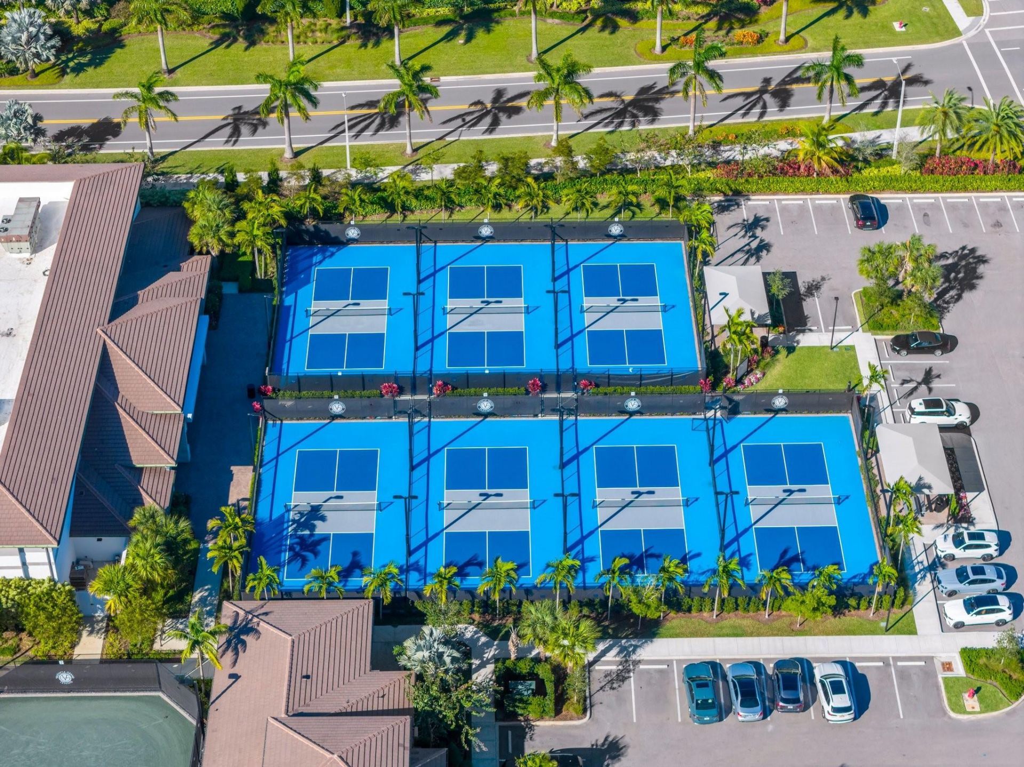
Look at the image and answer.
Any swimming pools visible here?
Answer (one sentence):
No, the photo shows no swimming pool.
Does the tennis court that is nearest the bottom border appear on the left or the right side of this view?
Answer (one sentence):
It is on the left.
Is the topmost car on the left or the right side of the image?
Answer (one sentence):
The topmost car sits on the right side.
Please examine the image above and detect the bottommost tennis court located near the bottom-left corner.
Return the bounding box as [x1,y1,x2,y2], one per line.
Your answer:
[0,691,202,767]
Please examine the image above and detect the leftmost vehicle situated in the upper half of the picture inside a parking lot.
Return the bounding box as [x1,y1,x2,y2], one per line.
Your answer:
[848,193,877,230]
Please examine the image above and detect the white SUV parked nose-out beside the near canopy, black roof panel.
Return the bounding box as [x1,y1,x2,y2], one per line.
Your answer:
[907,398,975,430]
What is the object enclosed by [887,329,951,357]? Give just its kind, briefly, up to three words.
car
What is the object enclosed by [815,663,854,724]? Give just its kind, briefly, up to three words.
car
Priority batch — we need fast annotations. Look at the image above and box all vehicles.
[848,193,877,230]
[932,529,1003,562]
[685,663,720,723]
[815,663,854,724]
[728,661,762,722]
[940,593,1017,628]
[526,751,600,767]
[907,398,975,430]
[767,653,803,712]
[887,329,951,357]
[934,563,1007,597]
